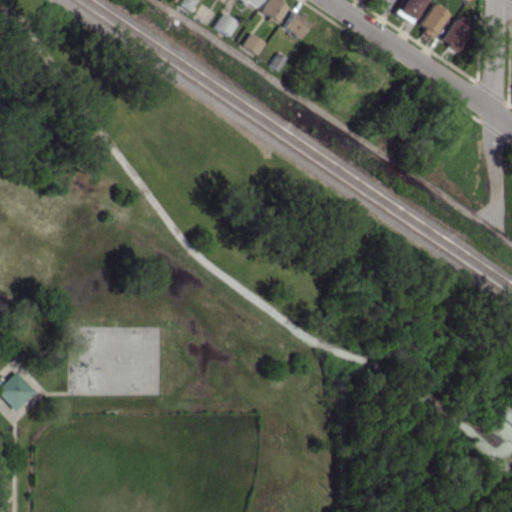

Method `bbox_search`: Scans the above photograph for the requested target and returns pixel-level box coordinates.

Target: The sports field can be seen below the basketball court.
[33,412,257,512]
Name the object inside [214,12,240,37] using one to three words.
building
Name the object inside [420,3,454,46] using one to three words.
house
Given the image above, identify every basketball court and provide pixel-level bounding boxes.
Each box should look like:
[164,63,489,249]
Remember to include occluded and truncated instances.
[69,327,160,396]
